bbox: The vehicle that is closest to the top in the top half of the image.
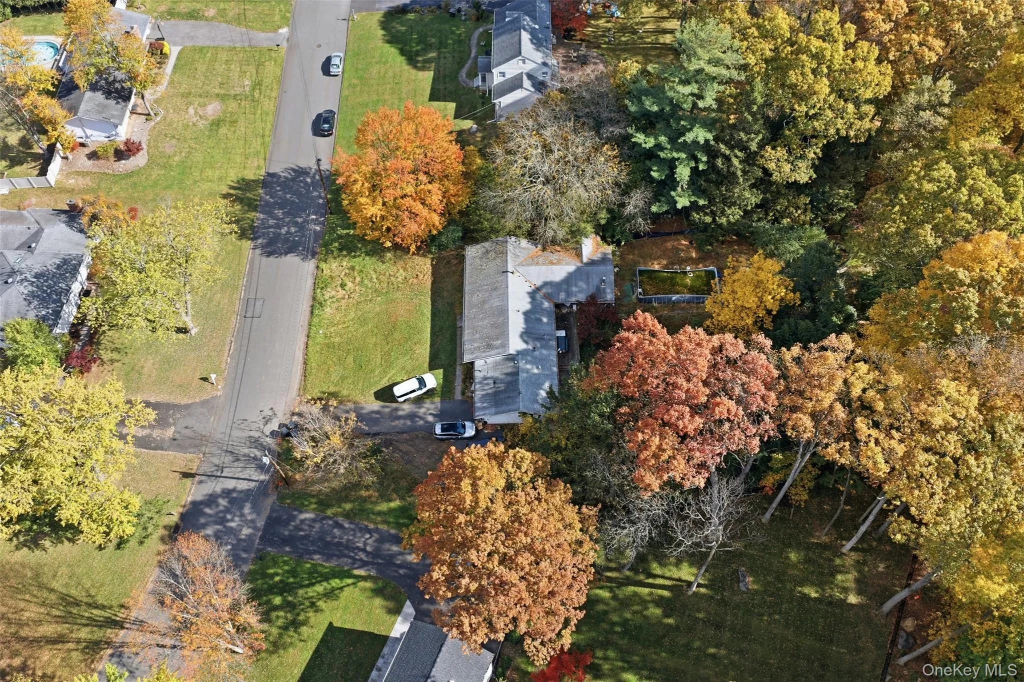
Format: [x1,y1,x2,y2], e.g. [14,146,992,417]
[328,54,344,78]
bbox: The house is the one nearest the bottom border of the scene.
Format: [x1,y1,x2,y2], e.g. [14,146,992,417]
[381,620,493,682]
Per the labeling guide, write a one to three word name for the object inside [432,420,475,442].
car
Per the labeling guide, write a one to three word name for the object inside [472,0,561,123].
house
